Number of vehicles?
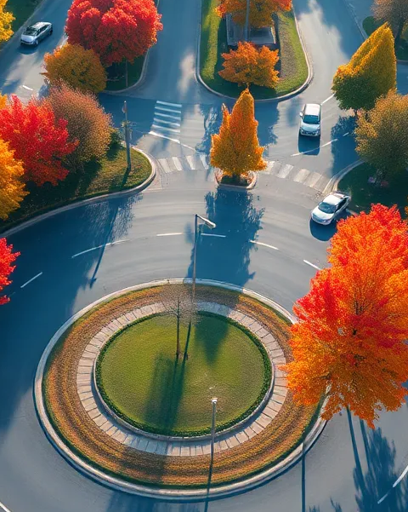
three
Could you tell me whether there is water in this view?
No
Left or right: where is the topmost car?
left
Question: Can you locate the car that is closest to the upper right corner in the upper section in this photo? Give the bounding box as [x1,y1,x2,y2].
[298,101,323,136]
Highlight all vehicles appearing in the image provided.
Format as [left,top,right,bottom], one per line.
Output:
[307,192,355,229]
[298,101,323,136]
[20,22,51,47]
